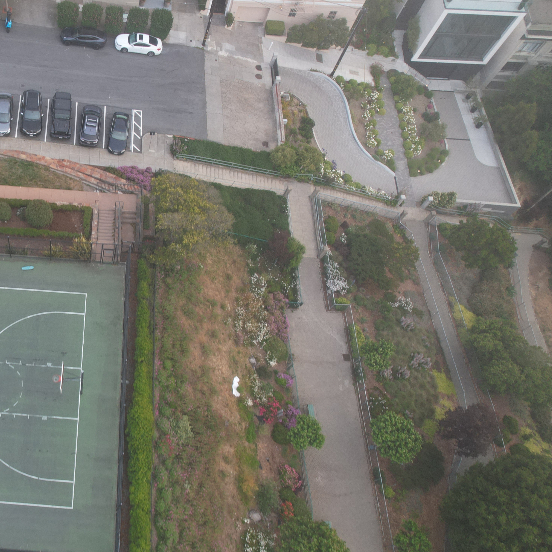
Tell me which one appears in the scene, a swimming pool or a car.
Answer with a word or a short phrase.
car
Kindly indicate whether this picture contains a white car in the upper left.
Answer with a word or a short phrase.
Yes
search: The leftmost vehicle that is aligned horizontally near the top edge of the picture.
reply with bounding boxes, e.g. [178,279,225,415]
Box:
[57,26,108,53]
